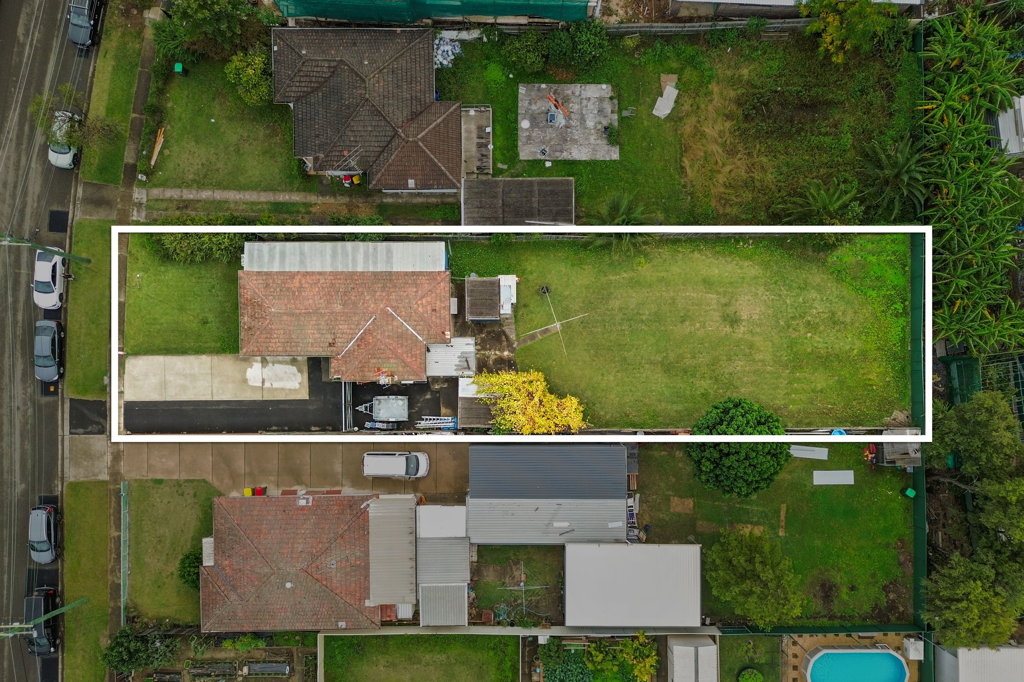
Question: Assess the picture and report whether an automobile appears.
Yes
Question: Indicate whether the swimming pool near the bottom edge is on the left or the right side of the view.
right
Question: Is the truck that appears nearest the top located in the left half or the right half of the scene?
left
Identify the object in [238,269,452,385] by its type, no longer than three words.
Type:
house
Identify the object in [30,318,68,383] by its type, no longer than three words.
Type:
car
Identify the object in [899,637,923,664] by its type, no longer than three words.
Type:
shed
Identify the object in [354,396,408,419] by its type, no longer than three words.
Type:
trailer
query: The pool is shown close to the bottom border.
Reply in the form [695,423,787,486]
[791,634,911,682]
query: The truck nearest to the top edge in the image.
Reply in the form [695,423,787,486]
[59,0,101,51]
